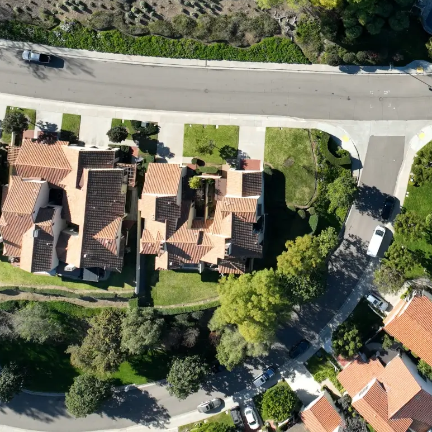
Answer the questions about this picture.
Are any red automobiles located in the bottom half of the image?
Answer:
No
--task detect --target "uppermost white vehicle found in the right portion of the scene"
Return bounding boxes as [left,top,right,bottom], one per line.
[366,225,386,259]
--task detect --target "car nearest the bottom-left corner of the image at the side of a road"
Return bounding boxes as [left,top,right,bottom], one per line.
[197,396,222,413]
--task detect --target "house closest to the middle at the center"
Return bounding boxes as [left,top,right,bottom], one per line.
[137,161,268,275]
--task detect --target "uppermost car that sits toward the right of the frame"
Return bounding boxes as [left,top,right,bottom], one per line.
[382,195,395,220]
